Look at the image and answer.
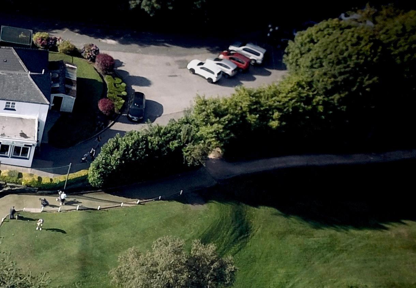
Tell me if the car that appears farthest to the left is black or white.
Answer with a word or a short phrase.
black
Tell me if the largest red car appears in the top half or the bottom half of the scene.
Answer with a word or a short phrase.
top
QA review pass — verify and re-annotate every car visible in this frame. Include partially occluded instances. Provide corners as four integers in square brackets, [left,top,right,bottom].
[204,57,242,79]
[184,61,227,86]
[126,89,147,122]
[215,51,254,73]
[226,43,270,66]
